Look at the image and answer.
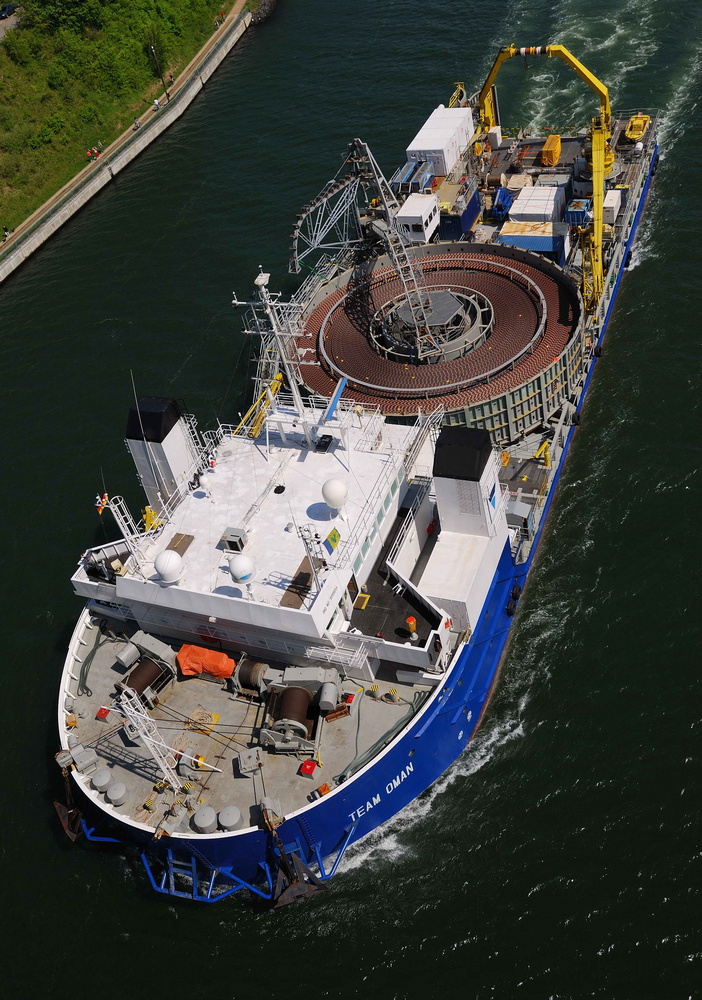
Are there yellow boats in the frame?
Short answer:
Yes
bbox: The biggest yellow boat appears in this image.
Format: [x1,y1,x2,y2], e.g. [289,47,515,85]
[626,109,652,141]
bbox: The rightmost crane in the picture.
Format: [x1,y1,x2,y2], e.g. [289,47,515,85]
[581,106,621,315]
